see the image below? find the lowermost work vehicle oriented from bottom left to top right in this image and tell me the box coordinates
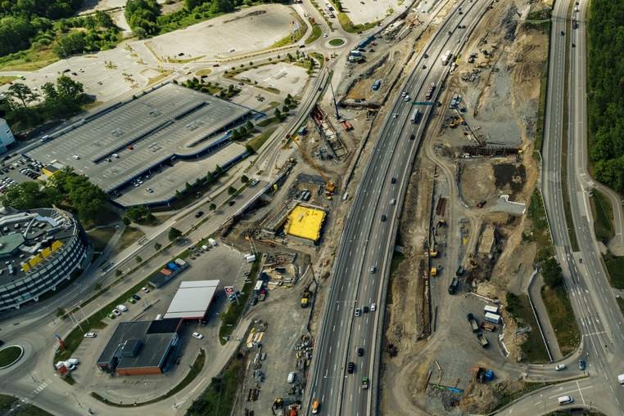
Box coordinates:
[266,392,284,416]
